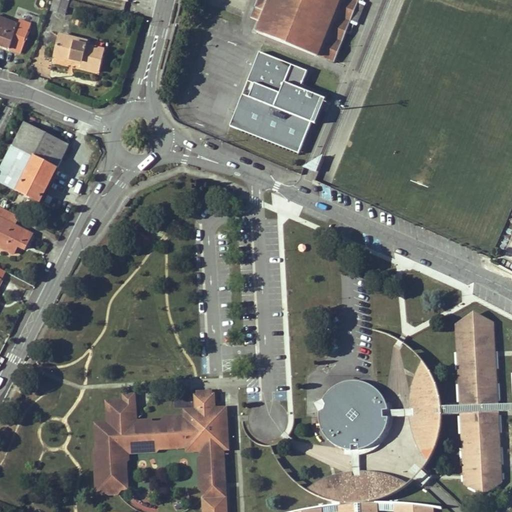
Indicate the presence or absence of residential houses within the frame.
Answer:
Yes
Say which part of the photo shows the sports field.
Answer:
top right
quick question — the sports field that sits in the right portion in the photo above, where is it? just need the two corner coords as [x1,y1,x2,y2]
[331,0,512,254]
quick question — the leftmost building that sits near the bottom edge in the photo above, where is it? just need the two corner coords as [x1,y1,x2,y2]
[94,390,228,512]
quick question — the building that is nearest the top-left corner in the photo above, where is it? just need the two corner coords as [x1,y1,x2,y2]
[0,14,32,54]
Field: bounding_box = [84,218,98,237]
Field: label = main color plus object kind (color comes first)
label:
white vehicle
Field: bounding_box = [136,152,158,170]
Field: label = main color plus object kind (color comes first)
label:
white vehicle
